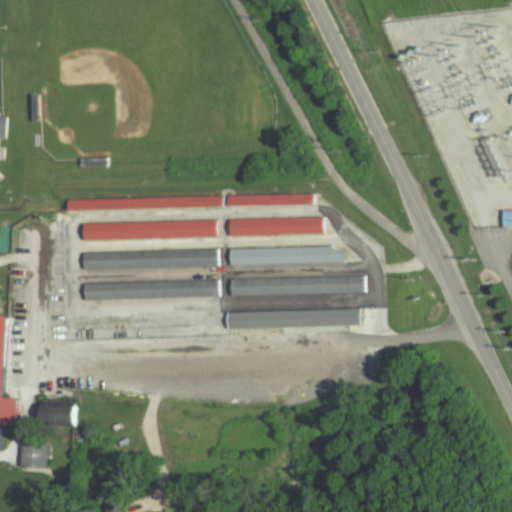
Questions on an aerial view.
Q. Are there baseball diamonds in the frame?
Yes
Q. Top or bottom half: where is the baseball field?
top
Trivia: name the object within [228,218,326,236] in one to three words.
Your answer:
building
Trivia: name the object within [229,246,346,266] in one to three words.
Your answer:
building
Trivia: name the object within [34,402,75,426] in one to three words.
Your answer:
barn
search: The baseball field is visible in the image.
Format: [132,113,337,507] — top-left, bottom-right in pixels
[43,48,152,158]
